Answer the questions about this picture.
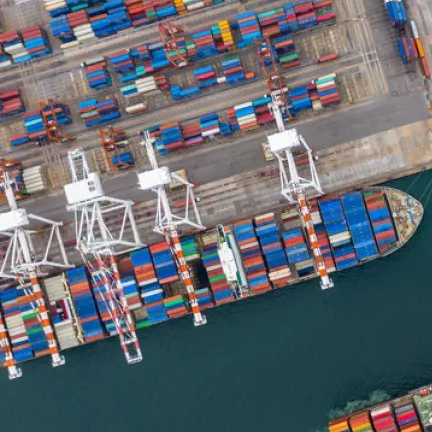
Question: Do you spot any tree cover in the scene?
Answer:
No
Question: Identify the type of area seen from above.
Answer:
port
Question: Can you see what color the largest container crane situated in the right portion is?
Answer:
white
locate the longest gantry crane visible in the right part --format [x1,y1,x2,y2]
[265,91,334,293]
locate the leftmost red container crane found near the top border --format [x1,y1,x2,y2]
[157,20,195,74]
